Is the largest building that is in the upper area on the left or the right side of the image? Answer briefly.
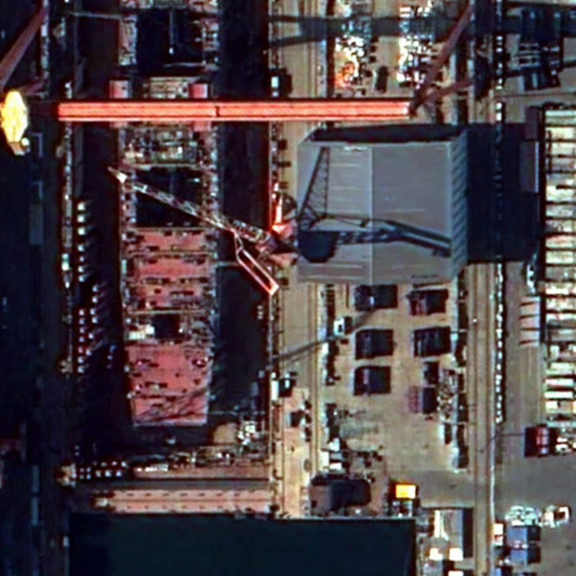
right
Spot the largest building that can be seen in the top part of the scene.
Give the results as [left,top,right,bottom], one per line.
[297,129,467,284]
